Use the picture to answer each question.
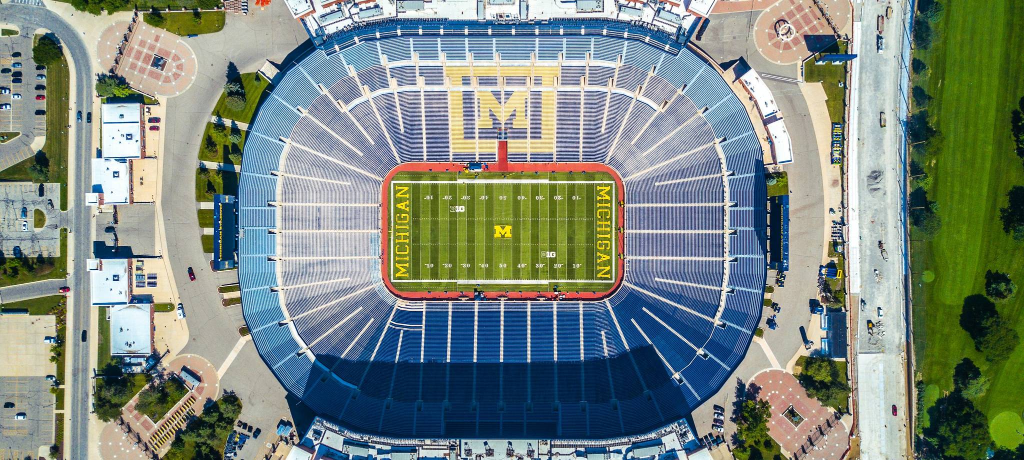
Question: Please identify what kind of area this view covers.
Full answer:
What you see here is a sports ground.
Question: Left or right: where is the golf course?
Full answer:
You can find the golf course on the right side of the picture.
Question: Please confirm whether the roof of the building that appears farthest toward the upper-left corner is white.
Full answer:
Yes, white is the color of the roof of the building that appears farthest toward the upper-left corner.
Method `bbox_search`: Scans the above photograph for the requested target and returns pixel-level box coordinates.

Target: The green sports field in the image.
[388,171,618,292]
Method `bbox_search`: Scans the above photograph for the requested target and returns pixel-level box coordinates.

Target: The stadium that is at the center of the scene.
[236,38,770,434]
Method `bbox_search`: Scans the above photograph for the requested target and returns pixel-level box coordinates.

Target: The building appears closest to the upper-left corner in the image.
[102,104,145,159]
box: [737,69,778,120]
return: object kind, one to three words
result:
building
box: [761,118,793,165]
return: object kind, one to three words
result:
building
